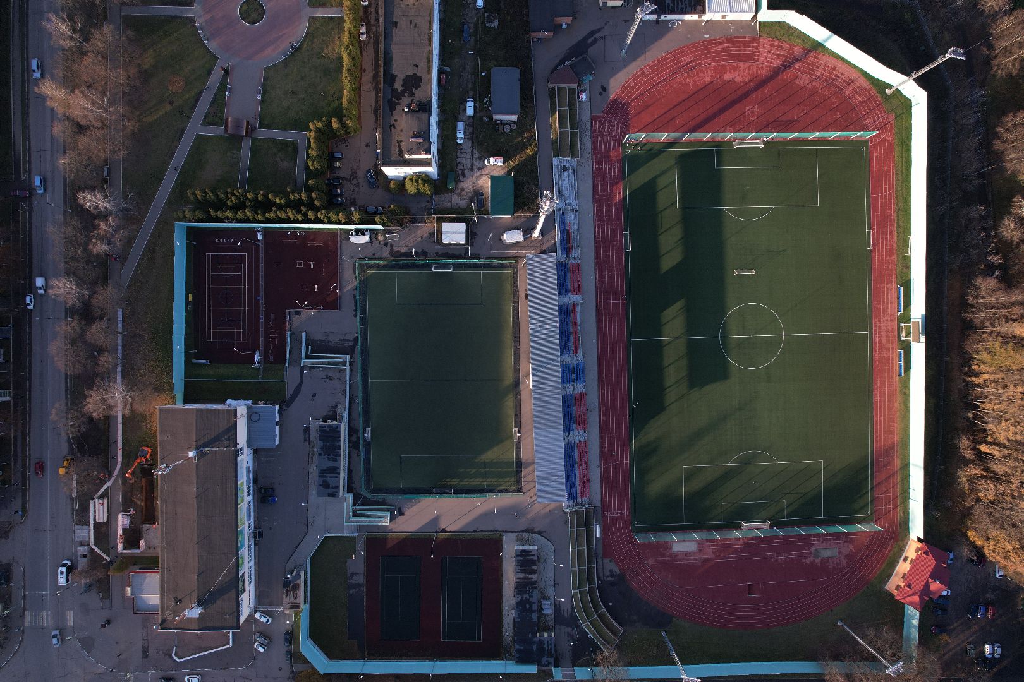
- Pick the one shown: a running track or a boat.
running track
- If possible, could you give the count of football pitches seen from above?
2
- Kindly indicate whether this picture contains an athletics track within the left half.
No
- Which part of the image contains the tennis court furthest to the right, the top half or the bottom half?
bottom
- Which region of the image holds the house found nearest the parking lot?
bottom right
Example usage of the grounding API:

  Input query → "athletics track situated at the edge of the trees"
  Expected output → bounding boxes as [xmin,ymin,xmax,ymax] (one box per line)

[593,35,899,629]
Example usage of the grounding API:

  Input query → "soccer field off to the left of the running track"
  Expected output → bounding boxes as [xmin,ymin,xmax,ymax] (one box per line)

[357,261,522,496]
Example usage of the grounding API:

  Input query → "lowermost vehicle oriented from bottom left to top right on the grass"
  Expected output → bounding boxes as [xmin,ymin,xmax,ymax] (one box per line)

[126,447,151,480]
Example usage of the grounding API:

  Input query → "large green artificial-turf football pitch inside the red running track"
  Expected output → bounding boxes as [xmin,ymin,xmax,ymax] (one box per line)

[623,138,875,534]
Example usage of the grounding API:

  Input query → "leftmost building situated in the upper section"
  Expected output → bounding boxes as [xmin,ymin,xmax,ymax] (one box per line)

[374,0,441,176]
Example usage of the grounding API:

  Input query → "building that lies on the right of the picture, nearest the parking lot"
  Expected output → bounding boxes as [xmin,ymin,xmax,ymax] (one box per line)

[884,539,950,611]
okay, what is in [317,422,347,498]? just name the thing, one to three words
building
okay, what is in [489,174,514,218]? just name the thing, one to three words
shed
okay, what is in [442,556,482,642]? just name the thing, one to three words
tennis court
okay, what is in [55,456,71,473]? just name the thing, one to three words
work vehicle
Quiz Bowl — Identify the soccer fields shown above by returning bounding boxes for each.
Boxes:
[623,138,875,534]
[357,261,522,496]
